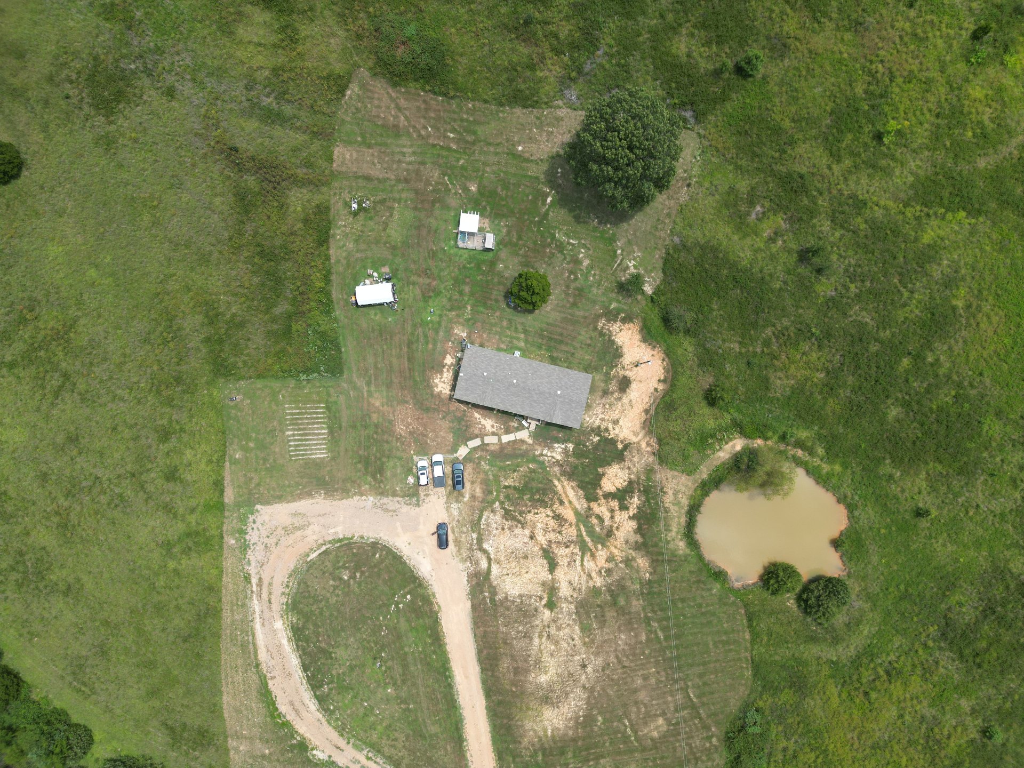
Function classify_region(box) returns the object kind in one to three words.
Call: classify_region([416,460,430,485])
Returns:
car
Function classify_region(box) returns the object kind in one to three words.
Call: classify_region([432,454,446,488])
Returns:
vehicle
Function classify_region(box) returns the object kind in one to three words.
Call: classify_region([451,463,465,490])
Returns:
car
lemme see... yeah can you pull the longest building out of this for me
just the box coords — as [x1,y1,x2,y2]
[453,345,592,428]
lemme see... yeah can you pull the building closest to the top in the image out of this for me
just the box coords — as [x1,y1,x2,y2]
[452,210,495,253]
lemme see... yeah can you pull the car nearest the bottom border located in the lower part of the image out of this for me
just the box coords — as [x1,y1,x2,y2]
[432,522,449,549]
